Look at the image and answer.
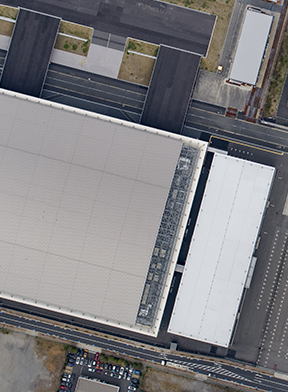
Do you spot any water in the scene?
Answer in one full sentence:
No, no water is visible.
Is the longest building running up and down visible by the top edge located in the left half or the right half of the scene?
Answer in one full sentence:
It is on the right.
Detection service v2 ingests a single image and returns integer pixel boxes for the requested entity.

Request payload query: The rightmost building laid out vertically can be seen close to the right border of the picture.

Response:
[230,7,274,85]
